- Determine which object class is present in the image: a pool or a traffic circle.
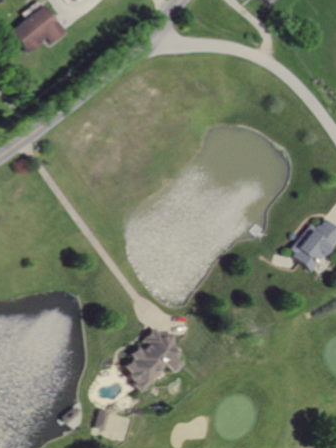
pool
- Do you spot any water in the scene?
Yes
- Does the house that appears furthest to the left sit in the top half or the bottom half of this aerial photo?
top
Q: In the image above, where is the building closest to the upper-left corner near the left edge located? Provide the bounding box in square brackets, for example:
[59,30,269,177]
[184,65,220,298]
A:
[14,1,67,52]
